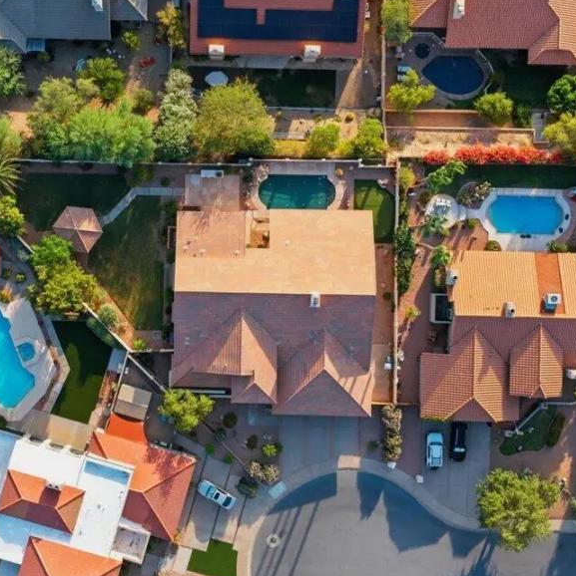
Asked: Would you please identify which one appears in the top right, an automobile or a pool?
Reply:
pool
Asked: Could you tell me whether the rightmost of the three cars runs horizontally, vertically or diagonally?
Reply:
vertically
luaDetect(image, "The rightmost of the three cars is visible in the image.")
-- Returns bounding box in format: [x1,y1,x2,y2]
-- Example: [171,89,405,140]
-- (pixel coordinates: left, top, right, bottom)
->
[449,422,469,462]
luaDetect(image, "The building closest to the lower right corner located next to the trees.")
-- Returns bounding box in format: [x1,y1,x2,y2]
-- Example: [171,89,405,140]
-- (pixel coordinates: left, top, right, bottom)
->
[419,251,576,422]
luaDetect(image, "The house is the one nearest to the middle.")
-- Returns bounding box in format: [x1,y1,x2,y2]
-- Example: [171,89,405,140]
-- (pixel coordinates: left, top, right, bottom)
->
[170,168,376,417]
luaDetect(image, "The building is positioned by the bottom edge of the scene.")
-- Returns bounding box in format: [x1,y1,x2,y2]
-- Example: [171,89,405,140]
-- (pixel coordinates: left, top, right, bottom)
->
[0,424,197,576]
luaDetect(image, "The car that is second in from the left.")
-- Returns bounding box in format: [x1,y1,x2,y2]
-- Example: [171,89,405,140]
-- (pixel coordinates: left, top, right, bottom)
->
[425,430,444,470]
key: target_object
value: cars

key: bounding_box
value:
[449,422,469,462]
[196,478,238,512]
[425,430,444,470]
